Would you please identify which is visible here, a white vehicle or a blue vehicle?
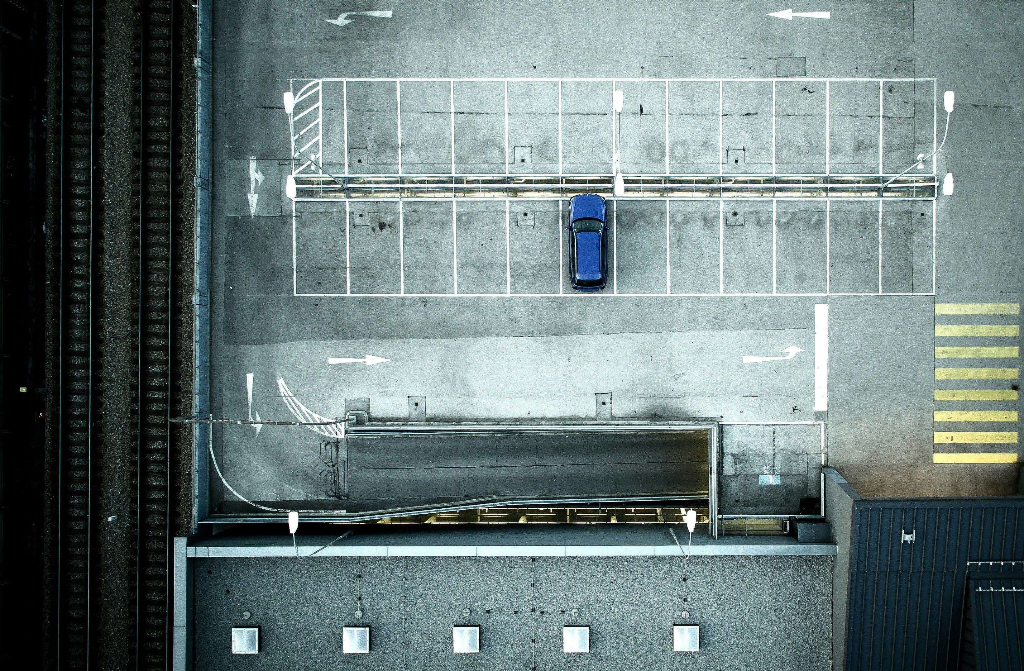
blue vehicle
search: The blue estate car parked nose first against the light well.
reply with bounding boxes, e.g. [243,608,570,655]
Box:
[565,193,611,294]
